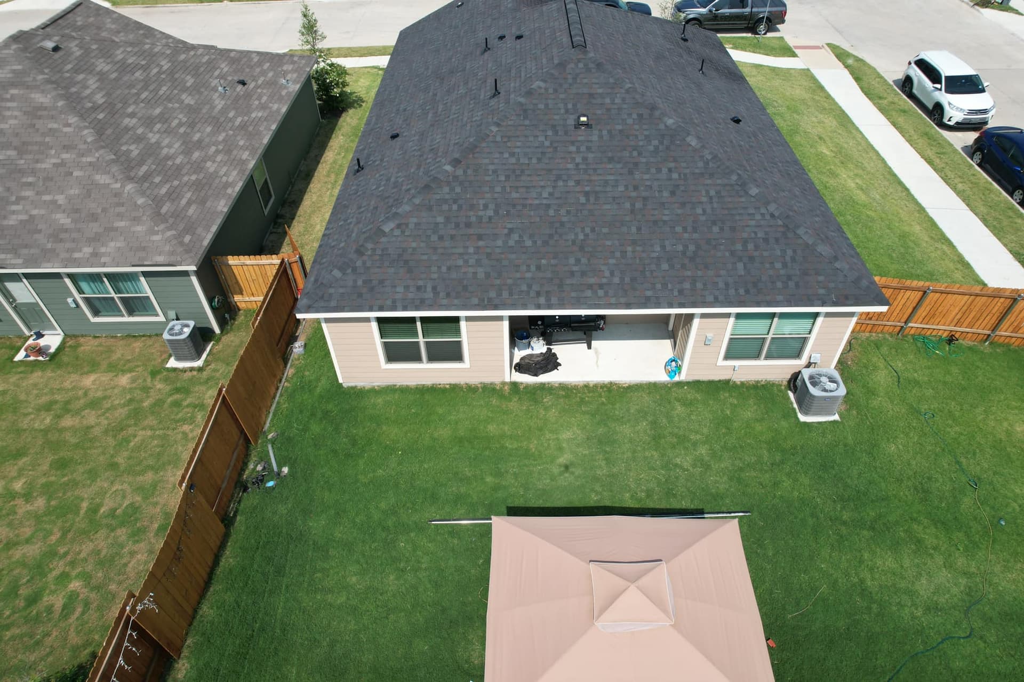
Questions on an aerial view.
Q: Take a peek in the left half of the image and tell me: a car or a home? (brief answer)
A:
home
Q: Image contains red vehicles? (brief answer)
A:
No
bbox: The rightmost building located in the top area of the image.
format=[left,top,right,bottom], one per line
[294,0,892,385]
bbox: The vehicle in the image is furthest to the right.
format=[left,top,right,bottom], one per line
[972,125,1024,204]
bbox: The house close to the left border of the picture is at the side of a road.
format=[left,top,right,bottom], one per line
[0,0,318,335]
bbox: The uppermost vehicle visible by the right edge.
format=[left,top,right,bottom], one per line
[901,50,999,131]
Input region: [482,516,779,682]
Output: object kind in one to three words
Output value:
gazebo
